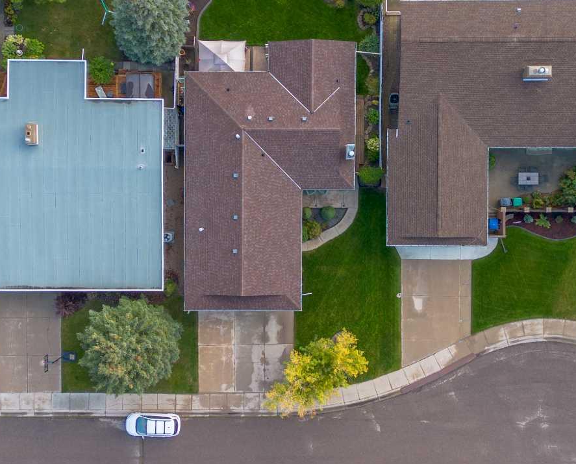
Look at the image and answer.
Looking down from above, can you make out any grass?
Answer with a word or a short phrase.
Yes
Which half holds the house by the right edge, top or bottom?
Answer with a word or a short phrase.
top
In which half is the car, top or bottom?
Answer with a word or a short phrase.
bottom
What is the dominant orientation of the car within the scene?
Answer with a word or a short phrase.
from left to right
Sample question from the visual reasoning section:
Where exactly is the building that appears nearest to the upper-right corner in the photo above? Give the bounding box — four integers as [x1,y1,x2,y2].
[386,0,576,247]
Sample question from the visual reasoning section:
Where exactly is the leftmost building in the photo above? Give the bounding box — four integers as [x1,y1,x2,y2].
[0,48,164,292]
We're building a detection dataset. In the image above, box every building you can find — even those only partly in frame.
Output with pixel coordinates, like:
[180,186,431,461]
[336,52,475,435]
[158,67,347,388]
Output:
[184,39,357,313]
[0,48,164,292]
[386,0,576,247]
